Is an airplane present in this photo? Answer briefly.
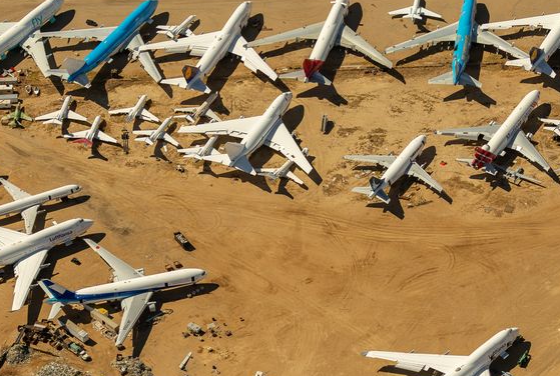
Yes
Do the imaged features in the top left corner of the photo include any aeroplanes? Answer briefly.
Yes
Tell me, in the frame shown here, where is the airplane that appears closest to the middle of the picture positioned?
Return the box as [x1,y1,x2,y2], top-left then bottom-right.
[257,160,307,188]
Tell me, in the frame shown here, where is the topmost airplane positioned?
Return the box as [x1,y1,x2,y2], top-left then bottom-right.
[388,0,440,20]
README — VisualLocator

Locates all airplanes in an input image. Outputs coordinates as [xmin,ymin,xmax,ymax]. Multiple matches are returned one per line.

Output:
[388,0,440,20]
[0,0,64,77]
[478,13,560,78]
[177,95,314,178]
[342,136,441,203]
[0,219,94,312]
[357,329,520,376]
[1,101,32,129]
[257,160,307,188]
[174,95,224,123]
[36,238,206,345]
[152,16,195,37]
[244,0,393,87]
[132,118,183,146]
[26,1,162,91]
[108,96,160,122]
[495,165,547,189]
[0,178,79,235]
[381,0,532,87]
[64,118,118,145]
[136,3,279,96]
[34,98,89,125]
[432,92,552,177]
[176,136,218,163]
